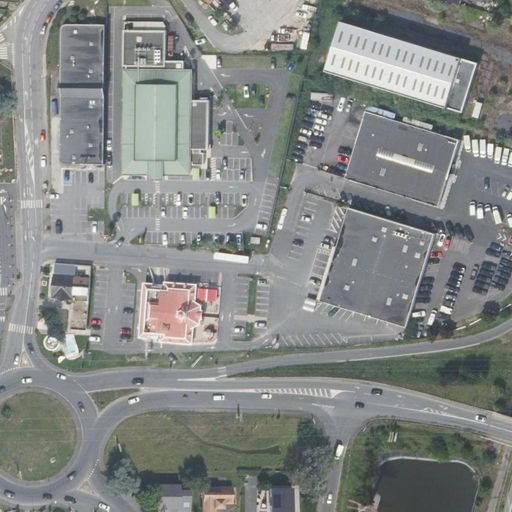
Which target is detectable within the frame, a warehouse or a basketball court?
warehouse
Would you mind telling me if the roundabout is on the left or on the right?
left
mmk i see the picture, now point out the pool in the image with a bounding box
[66,334,78,360]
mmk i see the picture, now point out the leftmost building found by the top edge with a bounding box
[58,24,105,168]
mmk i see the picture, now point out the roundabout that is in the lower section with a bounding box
[0,368,100,504]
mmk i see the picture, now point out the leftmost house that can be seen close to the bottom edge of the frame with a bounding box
[159,483,194,512]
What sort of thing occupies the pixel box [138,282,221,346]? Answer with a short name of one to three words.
building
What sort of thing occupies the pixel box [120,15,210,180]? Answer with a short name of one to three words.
building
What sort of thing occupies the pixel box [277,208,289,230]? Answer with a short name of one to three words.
vehicle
